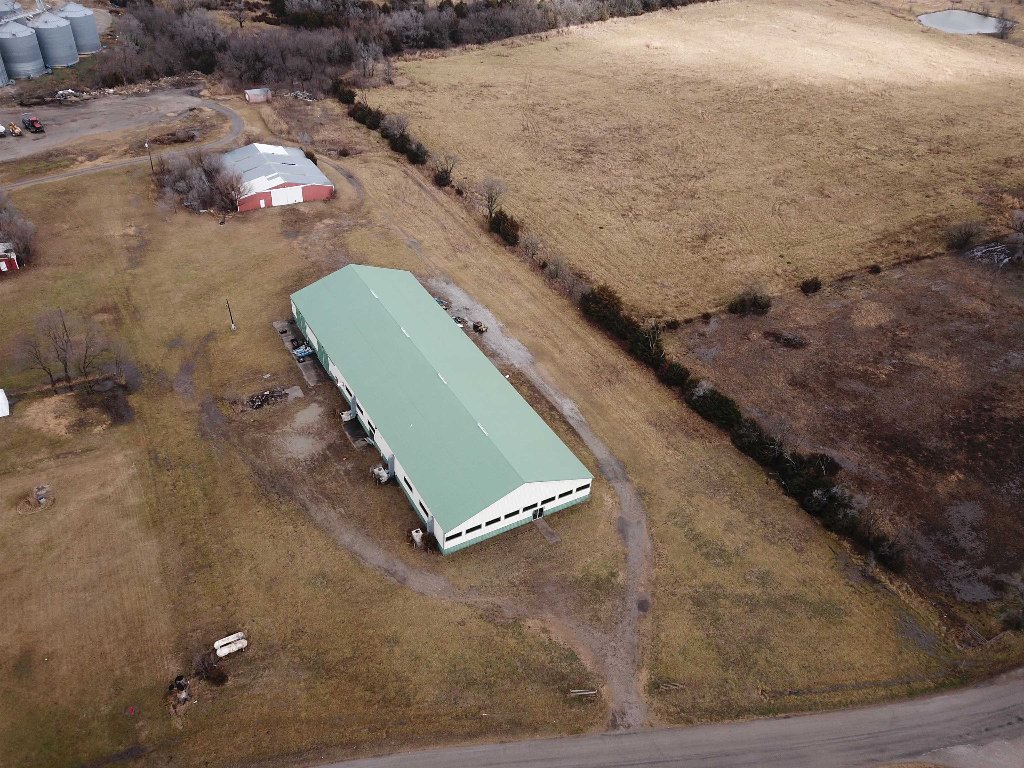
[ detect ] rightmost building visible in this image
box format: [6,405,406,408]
[288,263,595,556]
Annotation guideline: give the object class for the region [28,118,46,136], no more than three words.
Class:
work vehicle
